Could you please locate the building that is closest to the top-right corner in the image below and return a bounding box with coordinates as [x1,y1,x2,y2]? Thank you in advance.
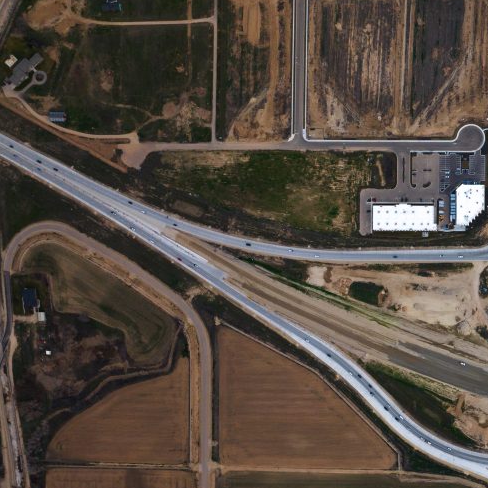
[456,183,484,226]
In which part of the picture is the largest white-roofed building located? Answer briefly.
right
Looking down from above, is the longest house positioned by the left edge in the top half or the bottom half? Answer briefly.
top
